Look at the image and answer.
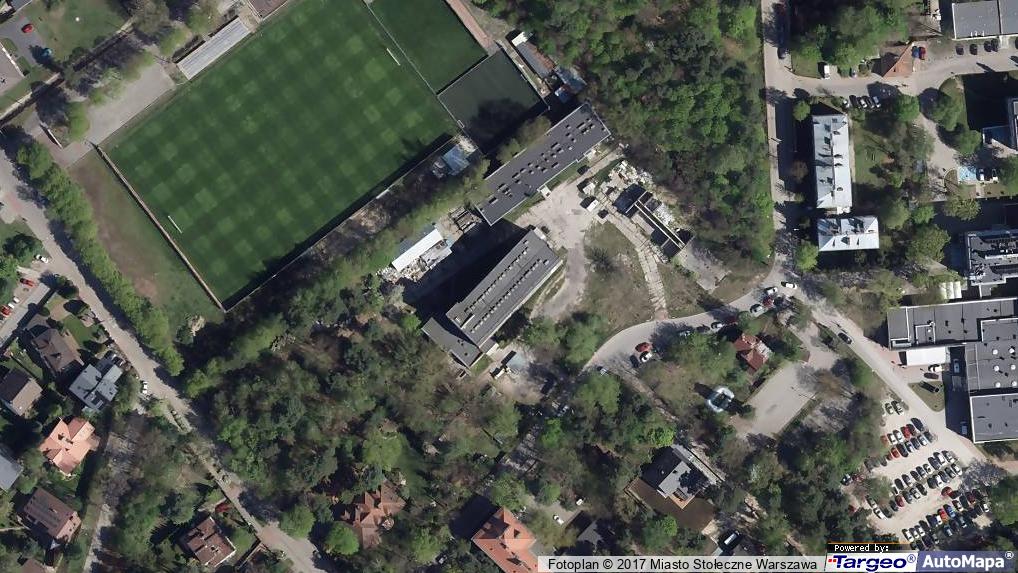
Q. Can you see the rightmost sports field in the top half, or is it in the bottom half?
top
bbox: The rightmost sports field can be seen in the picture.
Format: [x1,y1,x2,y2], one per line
[367,0,523,95]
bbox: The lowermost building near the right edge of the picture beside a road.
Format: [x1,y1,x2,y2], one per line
[967,393,1018,444]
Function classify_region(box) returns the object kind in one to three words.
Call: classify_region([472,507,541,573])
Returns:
house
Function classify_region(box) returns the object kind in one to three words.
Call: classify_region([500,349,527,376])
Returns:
shed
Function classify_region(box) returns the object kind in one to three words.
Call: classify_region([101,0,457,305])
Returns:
soccer field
